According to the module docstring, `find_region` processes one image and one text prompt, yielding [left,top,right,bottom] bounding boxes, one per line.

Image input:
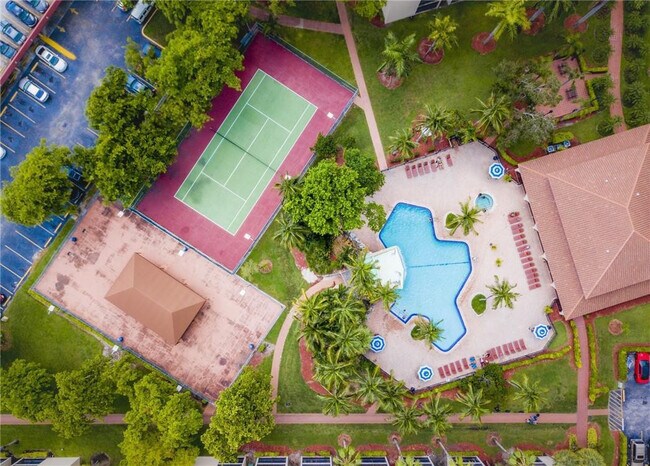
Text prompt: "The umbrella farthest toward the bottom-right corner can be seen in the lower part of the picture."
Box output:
[533,323,548,338]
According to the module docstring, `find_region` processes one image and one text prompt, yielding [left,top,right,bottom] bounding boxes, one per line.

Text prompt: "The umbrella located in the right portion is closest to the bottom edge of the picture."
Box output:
[417,364,433,381]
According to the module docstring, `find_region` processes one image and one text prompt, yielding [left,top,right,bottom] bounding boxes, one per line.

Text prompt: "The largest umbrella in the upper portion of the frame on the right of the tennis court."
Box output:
[488,163,504,178]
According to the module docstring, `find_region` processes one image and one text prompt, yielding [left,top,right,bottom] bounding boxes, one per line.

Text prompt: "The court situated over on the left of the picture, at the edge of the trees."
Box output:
[133,31,355,272]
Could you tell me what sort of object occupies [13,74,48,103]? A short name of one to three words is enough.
car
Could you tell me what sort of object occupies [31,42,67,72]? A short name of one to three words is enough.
car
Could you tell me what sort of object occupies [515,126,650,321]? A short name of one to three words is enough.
building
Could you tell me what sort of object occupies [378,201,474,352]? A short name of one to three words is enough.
swimming pool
